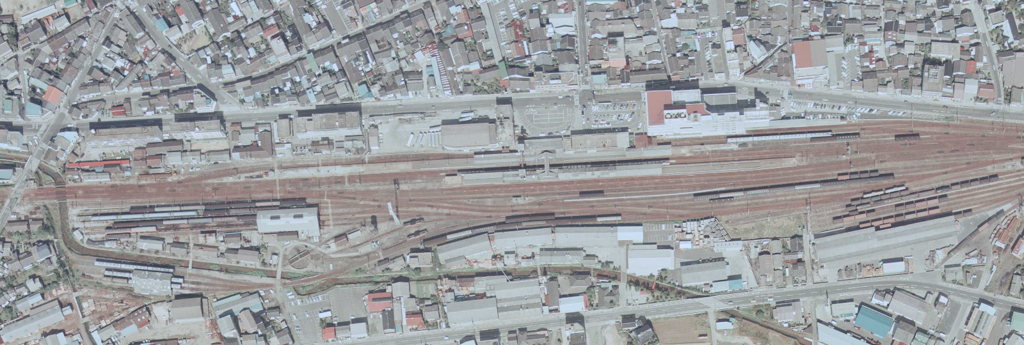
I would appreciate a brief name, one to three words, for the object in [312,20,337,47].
house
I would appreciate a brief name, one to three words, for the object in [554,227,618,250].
building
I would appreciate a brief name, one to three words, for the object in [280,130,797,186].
train station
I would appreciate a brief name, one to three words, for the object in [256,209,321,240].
shed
